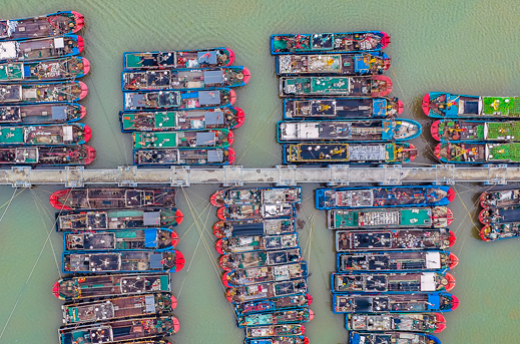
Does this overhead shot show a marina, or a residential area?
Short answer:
marina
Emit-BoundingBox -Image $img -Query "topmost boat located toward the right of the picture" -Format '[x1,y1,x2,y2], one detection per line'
[268,30,390,56]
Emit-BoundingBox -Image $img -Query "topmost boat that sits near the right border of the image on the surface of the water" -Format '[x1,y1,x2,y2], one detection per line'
[422,93,520,120]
